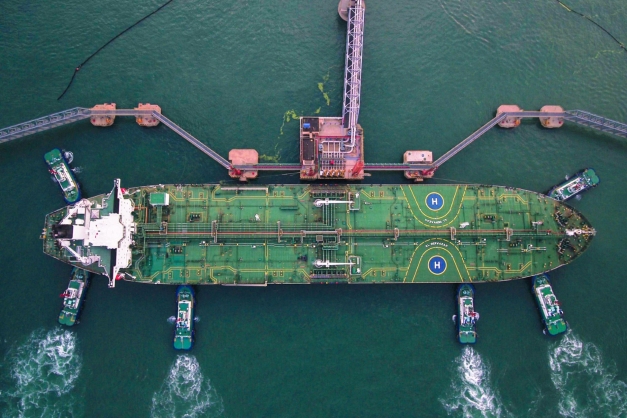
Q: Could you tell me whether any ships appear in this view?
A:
Yes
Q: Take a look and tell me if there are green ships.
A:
Yes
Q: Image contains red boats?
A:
No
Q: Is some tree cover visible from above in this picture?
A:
No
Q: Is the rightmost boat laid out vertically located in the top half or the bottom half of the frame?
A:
bottom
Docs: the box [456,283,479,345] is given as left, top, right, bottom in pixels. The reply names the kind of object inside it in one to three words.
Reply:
boat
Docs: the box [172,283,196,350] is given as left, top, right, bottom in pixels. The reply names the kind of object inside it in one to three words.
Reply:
boat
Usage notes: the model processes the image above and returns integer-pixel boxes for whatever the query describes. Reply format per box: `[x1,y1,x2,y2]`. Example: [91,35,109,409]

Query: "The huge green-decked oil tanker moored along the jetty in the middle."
[40,178,599,287]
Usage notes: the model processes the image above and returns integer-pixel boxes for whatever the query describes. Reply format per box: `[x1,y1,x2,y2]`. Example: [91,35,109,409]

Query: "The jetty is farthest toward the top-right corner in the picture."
[338,0,365,23]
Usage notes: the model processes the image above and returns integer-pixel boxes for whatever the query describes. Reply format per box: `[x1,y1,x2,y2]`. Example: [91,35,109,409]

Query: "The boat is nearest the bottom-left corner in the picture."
[55,265,88,327]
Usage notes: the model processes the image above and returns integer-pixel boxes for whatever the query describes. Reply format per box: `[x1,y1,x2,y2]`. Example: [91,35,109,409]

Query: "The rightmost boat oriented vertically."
[533,273,566,338]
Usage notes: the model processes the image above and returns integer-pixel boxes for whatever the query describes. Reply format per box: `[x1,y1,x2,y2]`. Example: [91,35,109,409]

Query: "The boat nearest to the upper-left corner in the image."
[42,147,81,205]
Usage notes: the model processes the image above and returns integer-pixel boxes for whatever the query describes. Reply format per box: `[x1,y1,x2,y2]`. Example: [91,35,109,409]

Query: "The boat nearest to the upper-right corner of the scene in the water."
[543,166,601,203]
